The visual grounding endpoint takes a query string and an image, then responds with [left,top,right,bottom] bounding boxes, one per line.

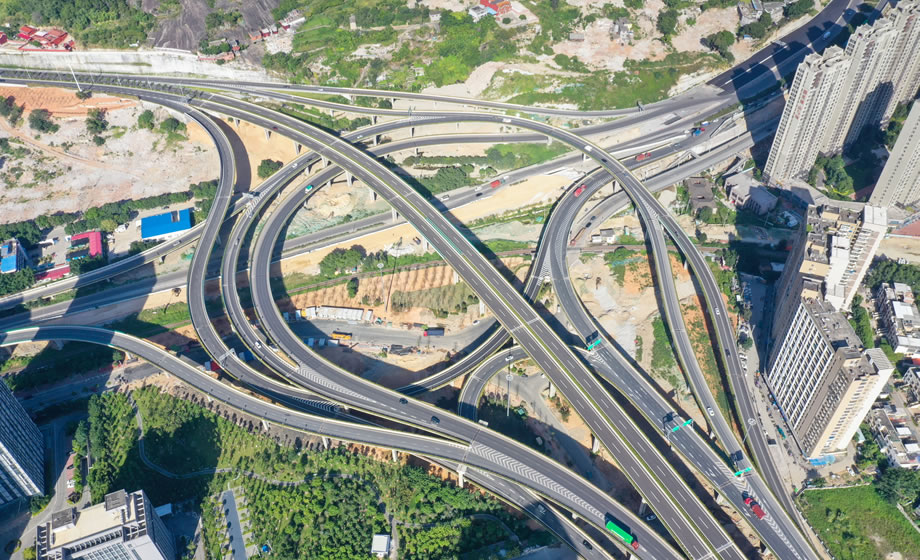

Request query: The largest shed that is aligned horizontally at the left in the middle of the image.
[141,210,192,242]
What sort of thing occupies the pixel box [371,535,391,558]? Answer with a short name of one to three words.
shed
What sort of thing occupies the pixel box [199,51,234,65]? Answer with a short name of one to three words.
house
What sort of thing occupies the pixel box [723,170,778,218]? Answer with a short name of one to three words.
building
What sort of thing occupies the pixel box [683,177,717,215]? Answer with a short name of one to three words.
building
